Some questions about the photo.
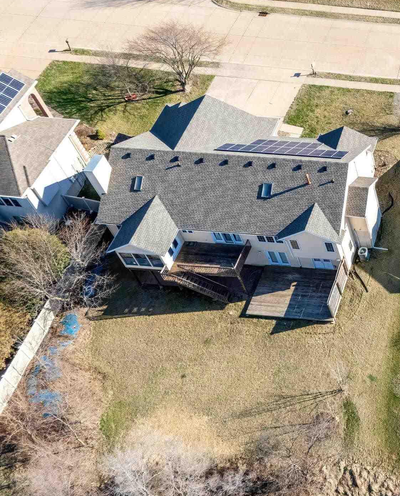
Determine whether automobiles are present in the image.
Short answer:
No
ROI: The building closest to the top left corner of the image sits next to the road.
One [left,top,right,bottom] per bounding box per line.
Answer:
[0,64,81,217]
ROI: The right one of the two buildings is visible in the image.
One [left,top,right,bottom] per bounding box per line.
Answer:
[72,91,378,294]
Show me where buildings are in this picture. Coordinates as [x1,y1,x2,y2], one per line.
[72,91,378,294]
[0,64,81,217]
